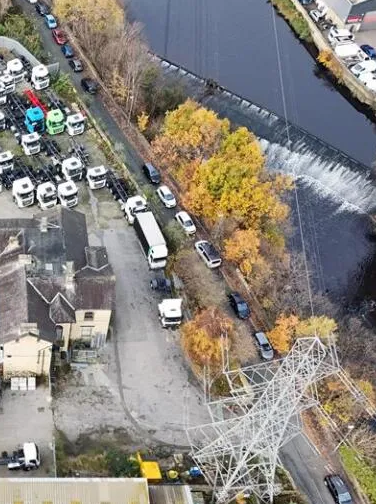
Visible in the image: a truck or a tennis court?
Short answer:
truck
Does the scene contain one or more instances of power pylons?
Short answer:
Yes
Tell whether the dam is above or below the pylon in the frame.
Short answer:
above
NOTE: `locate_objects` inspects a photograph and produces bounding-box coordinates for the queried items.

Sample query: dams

[149,52,376,219]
